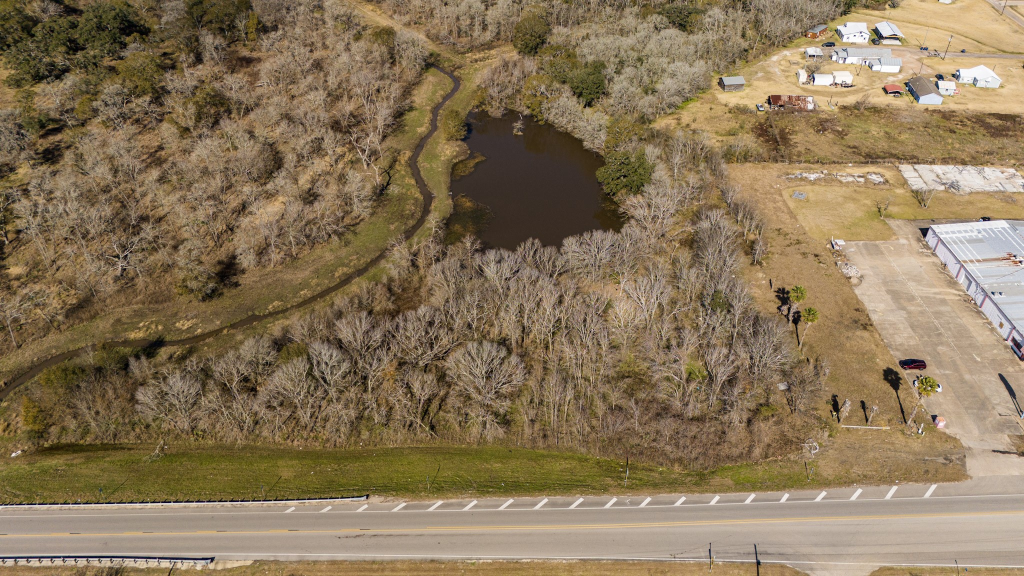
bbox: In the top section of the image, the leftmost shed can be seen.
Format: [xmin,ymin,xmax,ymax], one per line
[717,75,747,92]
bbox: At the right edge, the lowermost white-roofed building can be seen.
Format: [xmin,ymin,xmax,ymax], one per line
[925,218,1024,363]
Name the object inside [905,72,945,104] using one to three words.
house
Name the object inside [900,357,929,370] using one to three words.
vehicle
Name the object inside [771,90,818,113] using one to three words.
barn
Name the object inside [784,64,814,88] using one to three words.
shed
